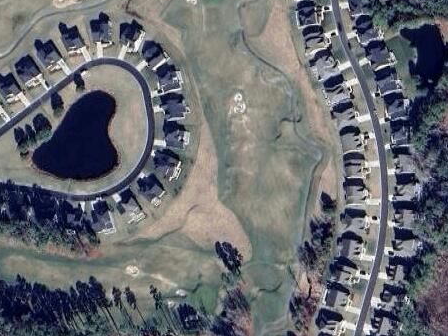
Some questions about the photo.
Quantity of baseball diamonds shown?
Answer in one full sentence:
No baseball diamonds are visible.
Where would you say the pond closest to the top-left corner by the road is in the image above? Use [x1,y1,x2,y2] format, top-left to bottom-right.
[32,90,118,181]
